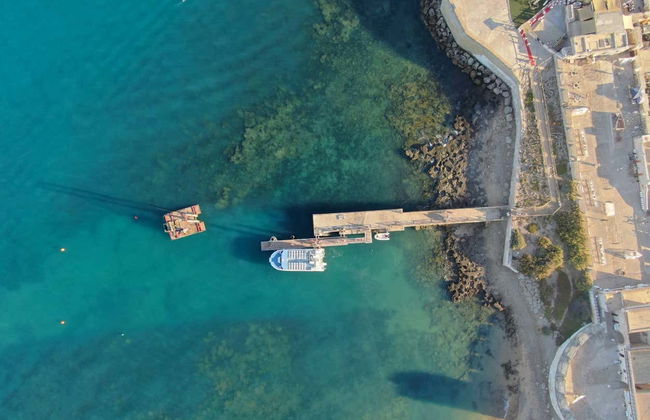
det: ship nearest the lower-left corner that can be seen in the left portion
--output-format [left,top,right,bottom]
[161,204,207,240]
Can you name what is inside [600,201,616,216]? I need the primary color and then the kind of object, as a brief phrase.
white umbrella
